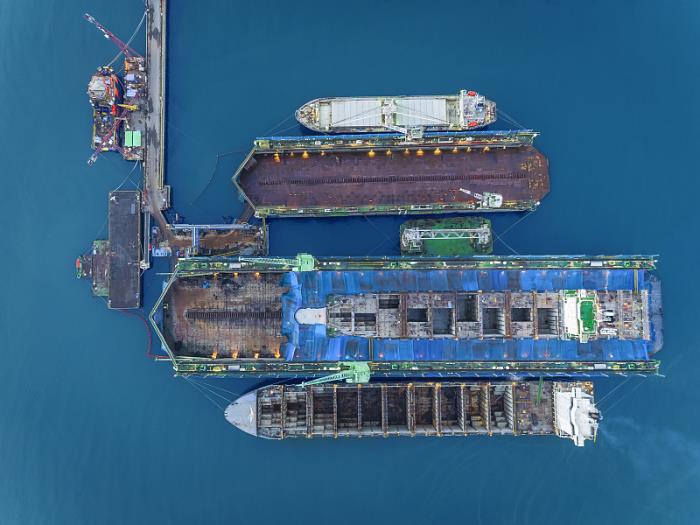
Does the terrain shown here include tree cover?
No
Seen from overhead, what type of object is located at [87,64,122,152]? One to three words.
ship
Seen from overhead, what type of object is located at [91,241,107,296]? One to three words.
ship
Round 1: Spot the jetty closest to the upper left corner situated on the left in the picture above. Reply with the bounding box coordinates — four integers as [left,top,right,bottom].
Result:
[142,0,171,212]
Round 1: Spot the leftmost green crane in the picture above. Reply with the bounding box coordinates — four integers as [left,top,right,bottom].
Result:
[239,254,314,271]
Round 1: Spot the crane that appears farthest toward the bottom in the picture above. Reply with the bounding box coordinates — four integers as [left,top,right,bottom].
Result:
[301,360,371,388]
